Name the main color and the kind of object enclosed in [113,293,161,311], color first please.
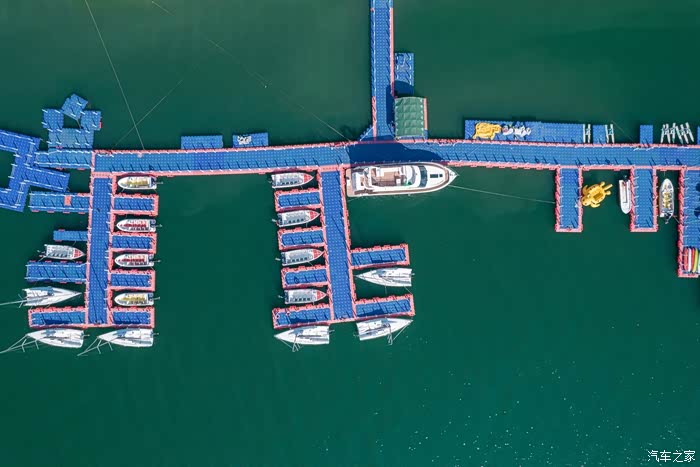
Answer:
white boat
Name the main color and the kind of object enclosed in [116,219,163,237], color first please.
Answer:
white boat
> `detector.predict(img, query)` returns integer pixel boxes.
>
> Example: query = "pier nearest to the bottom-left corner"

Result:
[26,306,87,327]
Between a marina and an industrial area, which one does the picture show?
marina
